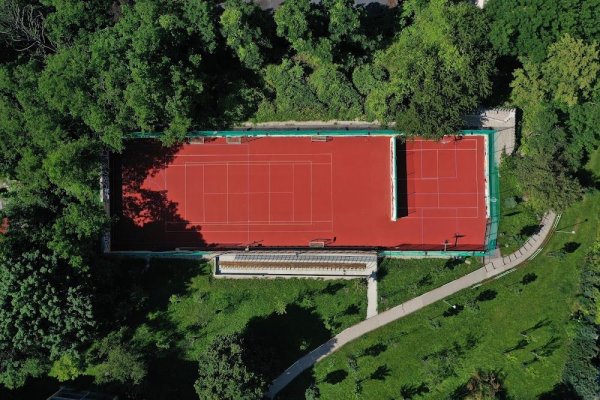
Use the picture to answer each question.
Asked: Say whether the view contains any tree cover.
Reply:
Yes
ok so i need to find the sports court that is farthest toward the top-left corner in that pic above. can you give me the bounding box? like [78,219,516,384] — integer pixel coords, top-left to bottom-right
[110,137,392,251]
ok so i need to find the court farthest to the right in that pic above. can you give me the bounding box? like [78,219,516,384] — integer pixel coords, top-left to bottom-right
[392,137,485,251]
